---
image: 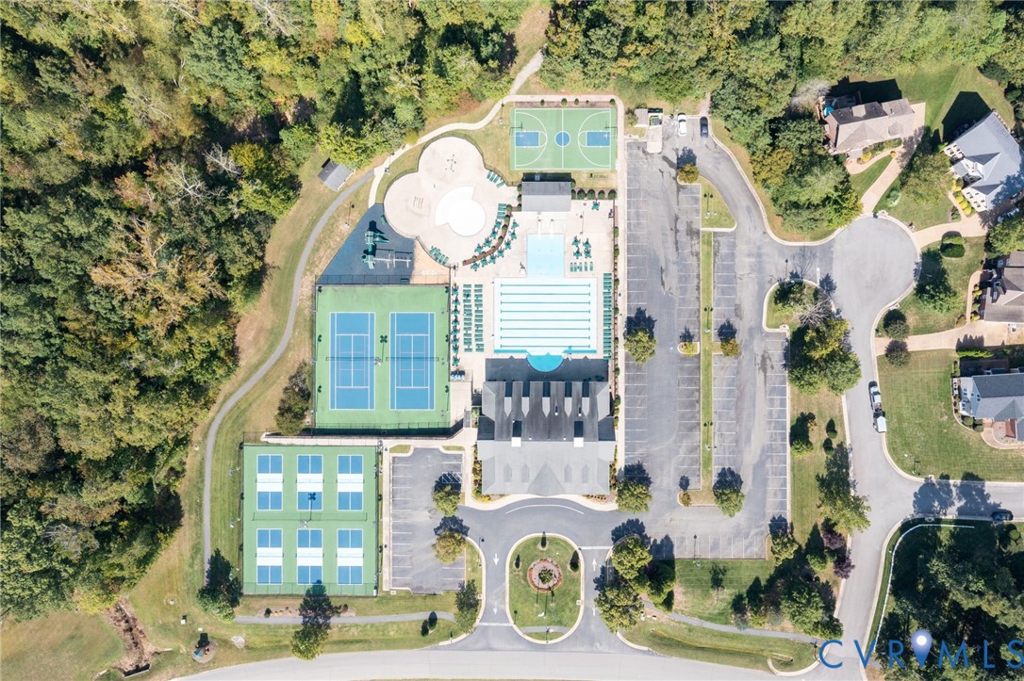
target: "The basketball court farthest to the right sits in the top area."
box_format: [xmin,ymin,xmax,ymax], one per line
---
[510,107,616,170]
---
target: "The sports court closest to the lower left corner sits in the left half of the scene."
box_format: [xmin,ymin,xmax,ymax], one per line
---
[243,520,290,596]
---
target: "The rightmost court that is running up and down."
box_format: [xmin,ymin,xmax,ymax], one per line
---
[382,286,449,431]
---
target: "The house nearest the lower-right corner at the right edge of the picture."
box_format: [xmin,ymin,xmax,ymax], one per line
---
[952,376,1024,447]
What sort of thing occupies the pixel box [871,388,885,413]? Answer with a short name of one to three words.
vehicle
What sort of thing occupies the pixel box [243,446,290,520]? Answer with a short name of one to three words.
sports court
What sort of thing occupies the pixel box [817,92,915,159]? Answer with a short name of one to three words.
house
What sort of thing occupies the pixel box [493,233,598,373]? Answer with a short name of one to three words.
swimming pool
